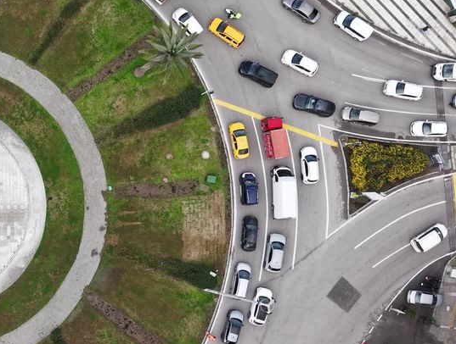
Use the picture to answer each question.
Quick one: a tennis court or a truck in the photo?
truck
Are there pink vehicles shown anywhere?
Yes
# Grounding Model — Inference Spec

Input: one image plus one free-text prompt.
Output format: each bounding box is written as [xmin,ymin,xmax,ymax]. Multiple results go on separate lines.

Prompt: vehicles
[278,48,321,77]
[427,61,456,83]
[403,288,442,307]
[236,60,280,89]
[423,283,444,290]
[279,0,322,25]
[222,308,245,344]
[267,165,298,219]
[330,10,376,42]
[381,79,424,102]
[227,122,250,160]
[207,16,248,51]
[239,170,259,205]
[264,232,287,272]
[247,285,274,327]
[405,222,451,254]
[230,261,252,298]
[338,105,381,126]
[240,215,260,251]
[408,119,449,138]
[298,145,320,184]
[258,117,292,161]
[291,93,338,119]
[171,6,207,40]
